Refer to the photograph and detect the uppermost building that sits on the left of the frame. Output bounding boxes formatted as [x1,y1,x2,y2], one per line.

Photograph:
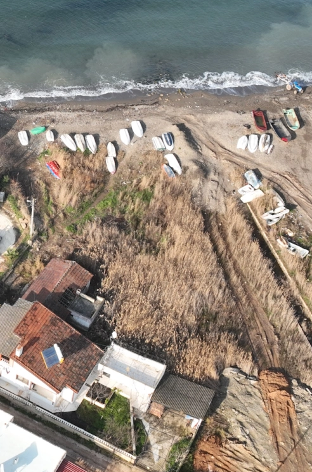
[22,259,103,336]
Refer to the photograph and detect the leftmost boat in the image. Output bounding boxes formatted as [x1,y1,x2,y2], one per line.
[16,130,28,149]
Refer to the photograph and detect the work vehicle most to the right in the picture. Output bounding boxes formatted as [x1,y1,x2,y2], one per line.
[285,74,309,93]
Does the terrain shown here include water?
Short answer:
Yes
